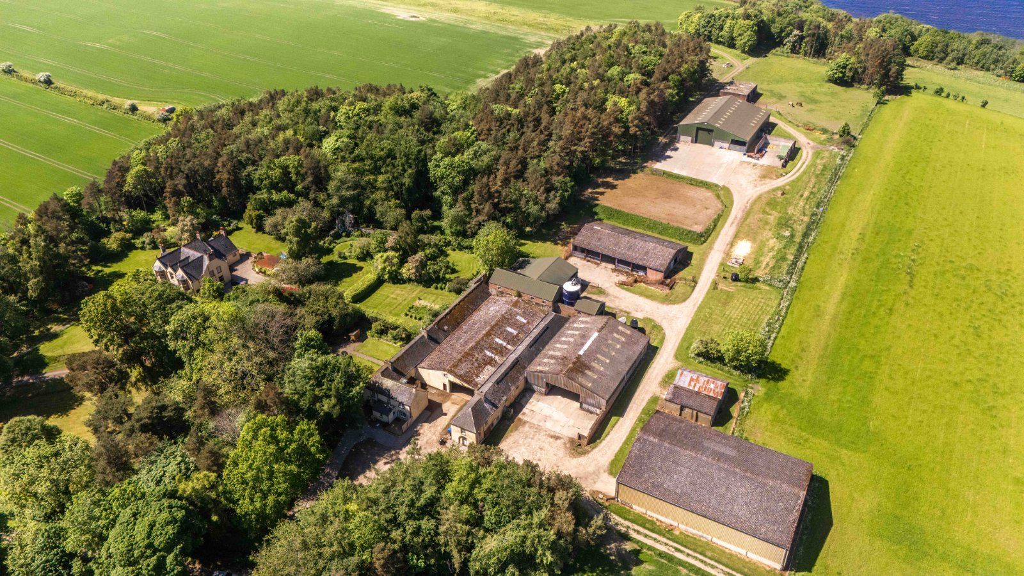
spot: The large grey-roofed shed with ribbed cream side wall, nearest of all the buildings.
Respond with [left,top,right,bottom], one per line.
[621,409,819,564]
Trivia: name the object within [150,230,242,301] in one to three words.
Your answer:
house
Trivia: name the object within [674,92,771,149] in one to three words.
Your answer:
barn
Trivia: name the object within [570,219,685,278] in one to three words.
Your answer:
shed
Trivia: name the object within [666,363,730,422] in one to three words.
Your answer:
shed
